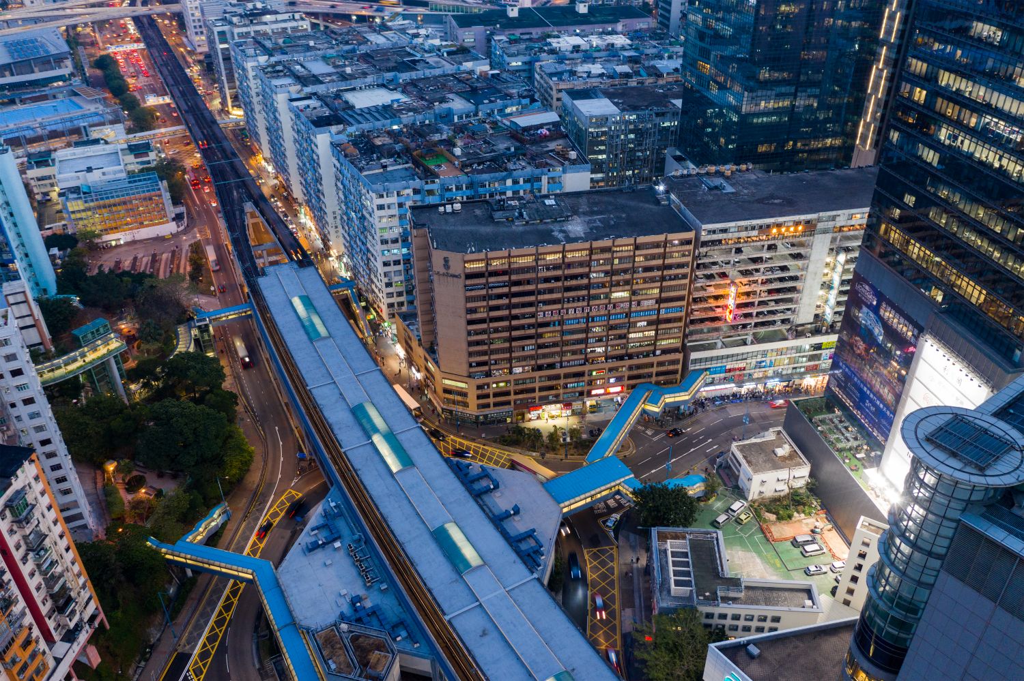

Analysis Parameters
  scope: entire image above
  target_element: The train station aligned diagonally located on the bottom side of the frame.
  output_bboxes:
[247,265,625,681]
